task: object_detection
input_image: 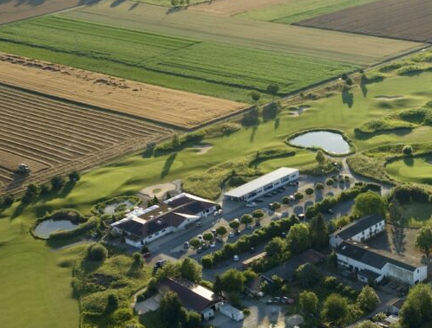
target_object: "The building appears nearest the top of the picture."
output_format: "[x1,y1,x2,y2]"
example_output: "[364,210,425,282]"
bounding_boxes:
[222,166,300,203]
